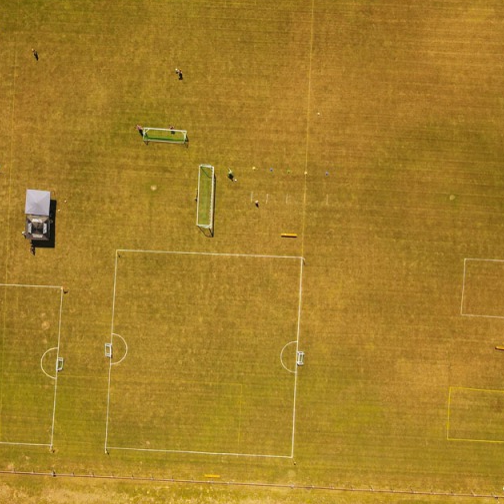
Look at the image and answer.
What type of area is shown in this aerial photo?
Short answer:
sports ground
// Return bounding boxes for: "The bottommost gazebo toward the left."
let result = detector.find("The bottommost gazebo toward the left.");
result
[26,215,51,239]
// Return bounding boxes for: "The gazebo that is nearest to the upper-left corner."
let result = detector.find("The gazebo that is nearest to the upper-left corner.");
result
[25,189,52,215]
